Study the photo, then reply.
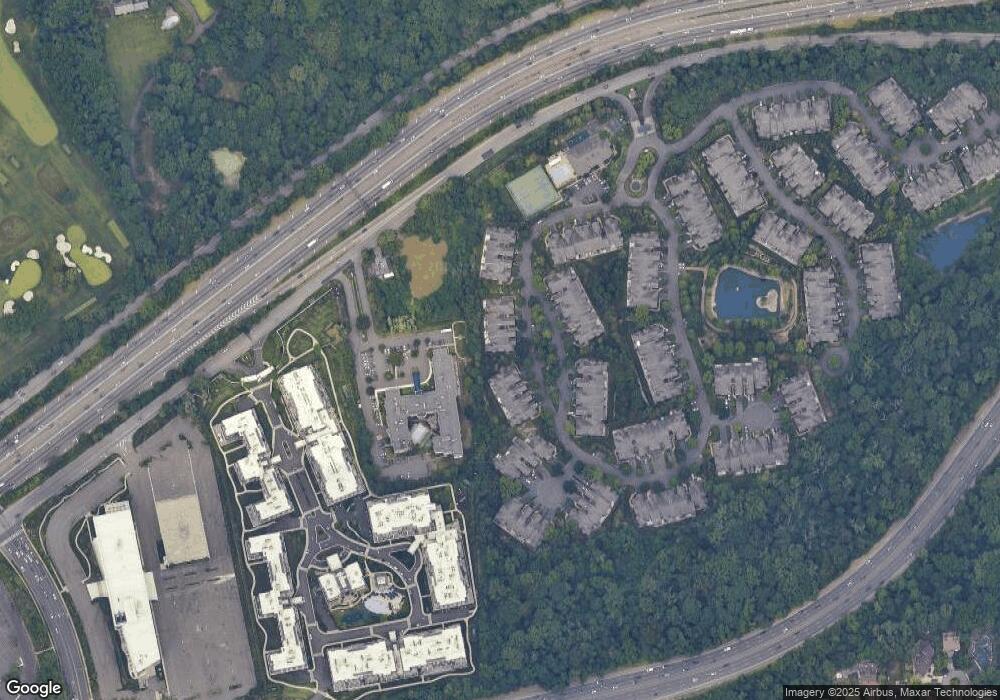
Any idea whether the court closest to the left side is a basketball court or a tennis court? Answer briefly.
tennis court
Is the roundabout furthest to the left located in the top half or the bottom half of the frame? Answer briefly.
top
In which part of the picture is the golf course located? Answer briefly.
top left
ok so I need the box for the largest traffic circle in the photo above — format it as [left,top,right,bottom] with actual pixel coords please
[612,125,664,210]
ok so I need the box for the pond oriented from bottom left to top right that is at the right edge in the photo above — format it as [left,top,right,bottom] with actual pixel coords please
[923,208,990,270]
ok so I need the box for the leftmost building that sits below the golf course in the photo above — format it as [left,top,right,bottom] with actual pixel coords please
[87,500,161,687]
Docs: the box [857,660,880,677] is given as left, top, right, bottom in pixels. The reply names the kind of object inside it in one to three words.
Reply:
house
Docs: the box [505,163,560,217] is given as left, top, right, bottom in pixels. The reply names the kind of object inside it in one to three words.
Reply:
tennis court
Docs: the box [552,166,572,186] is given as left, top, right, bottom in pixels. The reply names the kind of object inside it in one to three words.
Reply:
swimming pool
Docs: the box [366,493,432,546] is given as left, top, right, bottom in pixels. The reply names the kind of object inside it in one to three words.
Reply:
building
